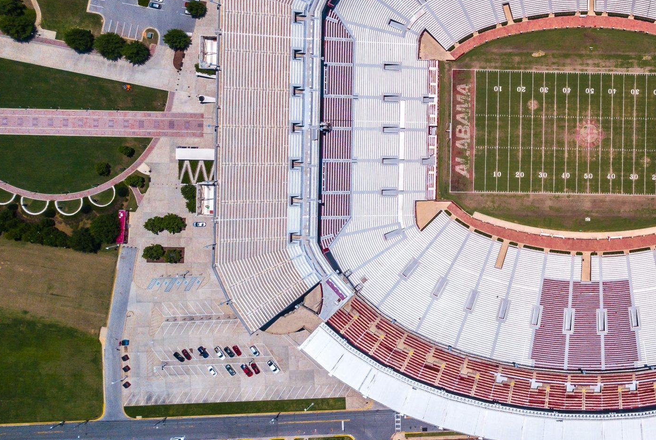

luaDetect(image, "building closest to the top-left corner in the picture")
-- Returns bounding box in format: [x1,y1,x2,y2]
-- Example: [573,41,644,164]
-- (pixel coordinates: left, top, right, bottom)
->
[200,35,219,69]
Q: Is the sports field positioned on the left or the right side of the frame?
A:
right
